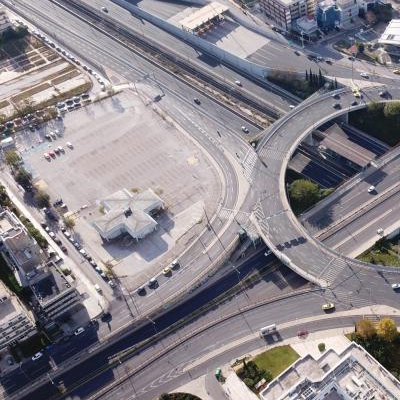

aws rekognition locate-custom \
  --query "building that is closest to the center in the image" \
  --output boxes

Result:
[95,189,166,245]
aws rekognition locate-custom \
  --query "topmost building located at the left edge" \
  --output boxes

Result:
[0,208,38,249]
